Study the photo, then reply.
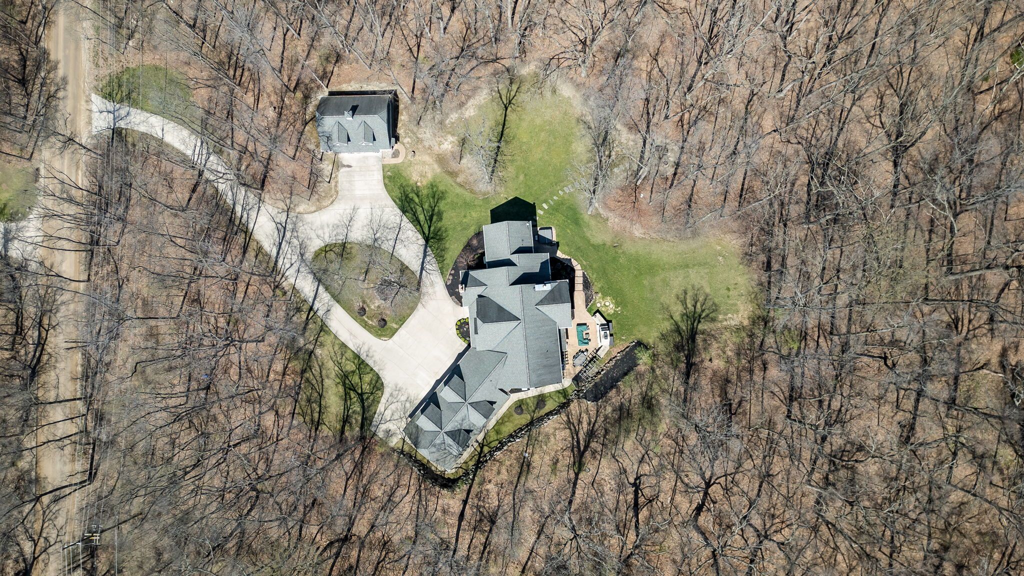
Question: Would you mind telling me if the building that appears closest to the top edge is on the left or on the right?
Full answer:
The building that appears closest to the top edge appears in the left half of the scene.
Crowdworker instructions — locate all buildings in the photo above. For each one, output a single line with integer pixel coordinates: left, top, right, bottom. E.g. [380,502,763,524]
[402,221,572,471]
[311,95,396,153]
